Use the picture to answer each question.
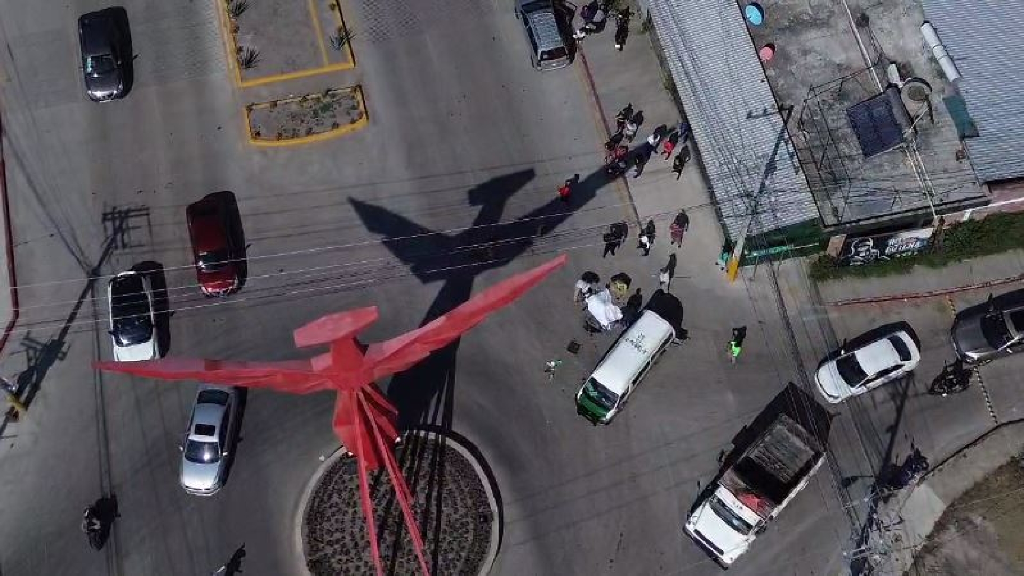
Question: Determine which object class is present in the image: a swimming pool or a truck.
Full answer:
I can see a truck in this picture.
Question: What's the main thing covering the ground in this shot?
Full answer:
Most of the picture is covered by paved ground.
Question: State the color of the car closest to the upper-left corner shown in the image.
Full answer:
From above, the car closest to the upper-left corner appears black.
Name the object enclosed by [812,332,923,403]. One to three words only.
car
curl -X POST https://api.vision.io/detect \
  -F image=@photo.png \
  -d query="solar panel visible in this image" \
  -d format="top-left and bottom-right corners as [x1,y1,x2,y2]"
[847,88,905,162]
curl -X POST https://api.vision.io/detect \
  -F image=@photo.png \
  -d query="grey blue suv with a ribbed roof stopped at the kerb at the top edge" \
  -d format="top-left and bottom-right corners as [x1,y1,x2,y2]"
[516,0,576,75]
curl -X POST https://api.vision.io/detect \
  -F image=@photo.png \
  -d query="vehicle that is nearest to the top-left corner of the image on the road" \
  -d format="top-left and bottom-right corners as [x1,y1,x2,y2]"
[79,21,129,105]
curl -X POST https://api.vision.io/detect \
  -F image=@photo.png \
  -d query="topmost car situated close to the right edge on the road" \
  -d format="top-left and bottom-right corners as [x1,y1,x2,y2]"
[946,298,1024,367]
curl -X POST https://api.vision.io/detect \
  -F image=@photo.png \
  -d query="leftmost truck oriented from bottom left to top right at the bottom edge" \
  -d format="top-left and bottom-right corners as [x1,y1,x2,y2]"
[682,386,835,568]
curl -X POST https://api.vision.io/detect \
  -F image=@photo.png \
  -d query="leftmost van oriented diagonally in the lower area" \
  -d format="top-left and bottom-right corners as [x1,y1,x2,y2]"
[576,307,685,431]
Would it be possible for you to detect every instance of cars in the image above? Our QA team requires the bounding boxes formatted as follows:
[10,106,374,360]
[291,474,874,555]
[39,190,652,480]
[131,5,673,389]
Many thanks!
[105,277,161,365]
[187,206,241,300]
[177,389,236,497]
[516,0,576,75]
[812,332,923,403]
[946,298,1024,367]
[79,21,129,105]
